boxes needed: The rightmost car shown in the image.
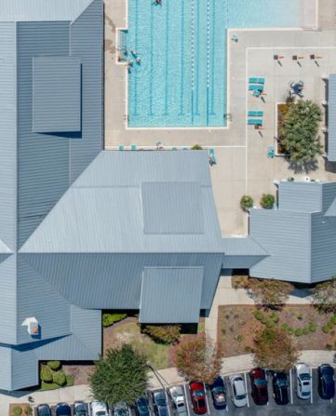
[315,364,336,400]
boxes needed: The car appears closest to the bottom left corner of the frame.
[36,399,52,416]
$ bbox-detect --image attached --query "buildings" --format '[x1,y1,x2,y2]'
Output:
[236,179,336,284]
[0,0,225,392]
[323,74,336,162]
